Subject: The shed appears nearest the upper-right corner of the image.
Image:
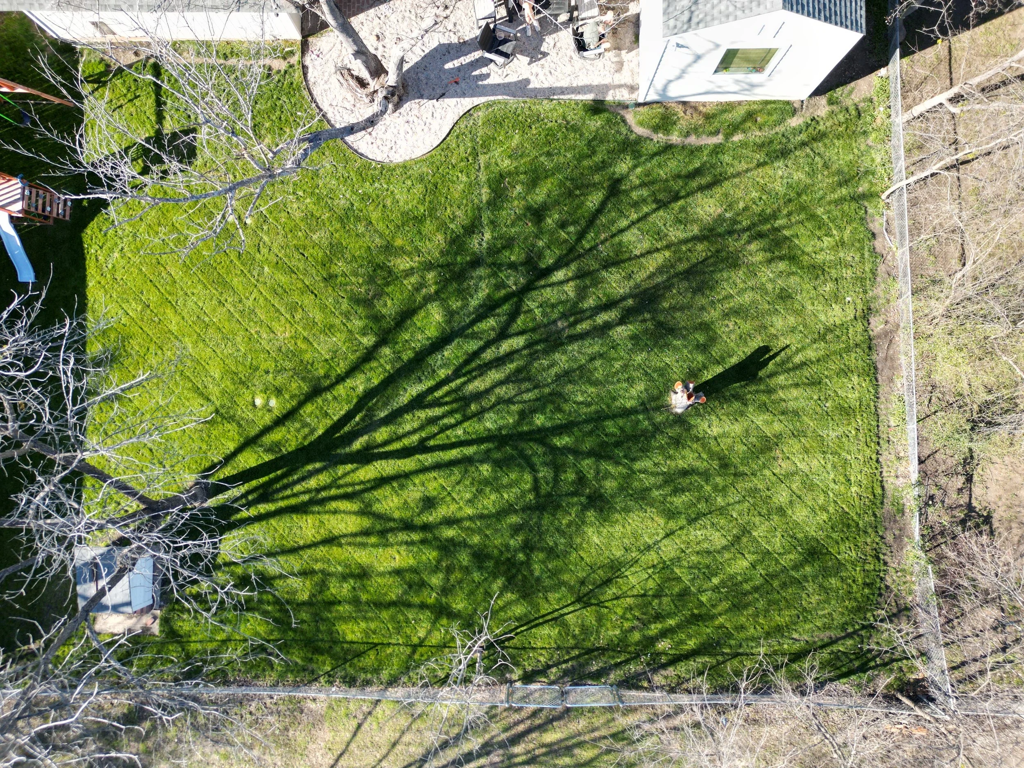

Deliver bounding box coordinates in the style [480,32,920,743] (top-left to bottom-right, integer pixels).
[637,0,874,103]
